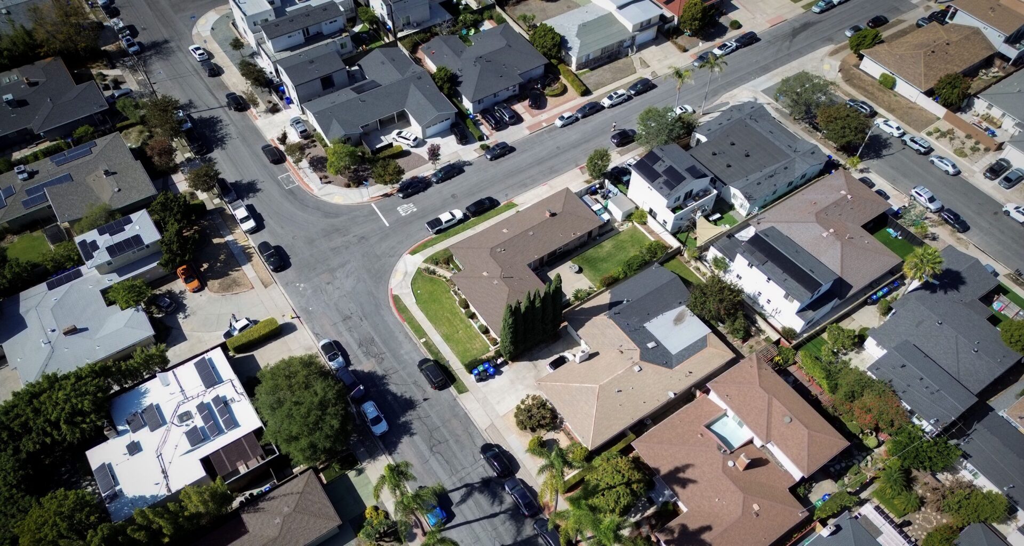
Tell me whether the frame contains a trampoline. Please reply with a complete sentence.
Yes, a trampoline can be made out from above.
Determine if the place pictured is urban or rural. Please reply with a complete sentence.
The area shown here is urban.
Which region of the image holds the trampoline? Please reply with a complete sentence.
The trampoline appears toward the left of the photo.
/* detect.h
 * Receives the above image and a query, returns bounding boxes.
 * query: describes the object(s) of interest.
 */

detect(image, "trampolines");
[34,217,72,246]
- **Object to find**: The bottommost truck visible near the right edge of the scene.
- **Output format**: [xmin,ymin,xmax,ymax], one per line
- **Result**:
[975,255,1014,289]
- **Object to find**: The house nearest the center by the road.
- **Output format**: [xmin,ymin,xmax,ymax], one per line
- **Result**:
[449,187,604,337]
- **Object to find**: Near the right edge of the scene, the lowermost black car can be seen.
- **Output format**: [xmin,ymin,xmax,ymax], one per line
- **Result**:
[933,206,974,236]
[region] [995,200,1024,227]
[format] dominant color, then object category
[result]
white car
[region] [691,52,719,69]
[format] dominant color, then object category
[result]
gray car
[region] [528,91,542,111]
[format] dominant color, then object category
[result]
black car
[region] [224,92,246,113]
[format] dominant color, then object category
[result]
black car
